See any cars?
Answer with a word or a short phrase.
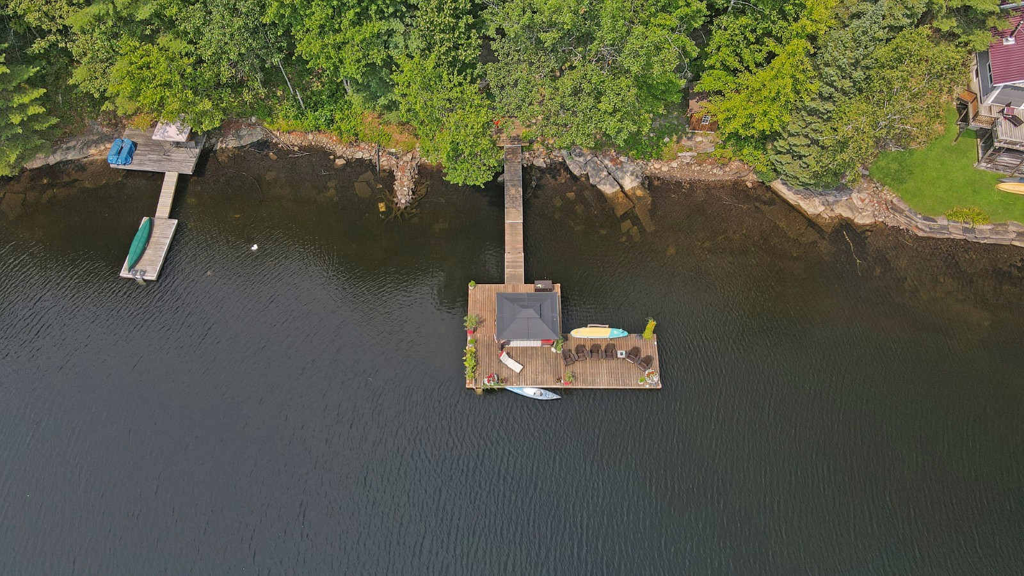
No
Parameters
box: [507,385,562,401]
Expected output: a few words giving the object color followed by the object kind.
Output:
white boat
